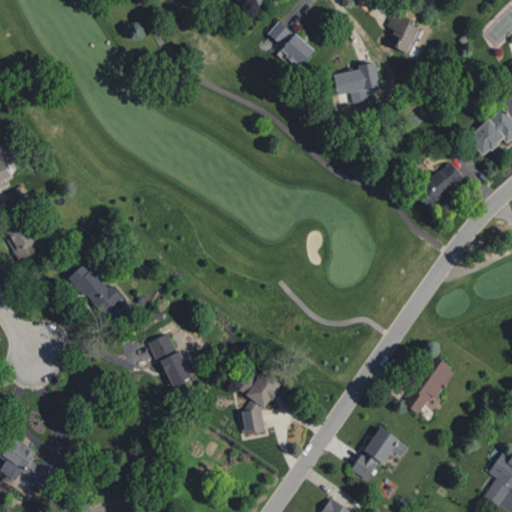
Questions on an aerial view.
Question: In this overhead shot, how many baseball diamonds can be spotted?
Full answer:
Not a single baseball diamond can be seen.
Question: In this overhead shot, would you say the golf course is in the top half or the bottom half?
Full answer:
The golf course sits in the top half of the picture.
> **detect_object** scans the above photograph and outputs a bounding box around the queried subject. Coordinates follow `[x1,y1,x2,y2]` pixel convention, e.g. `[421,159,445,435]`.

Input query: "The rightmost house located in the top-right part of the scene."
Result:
[474,110,512,153]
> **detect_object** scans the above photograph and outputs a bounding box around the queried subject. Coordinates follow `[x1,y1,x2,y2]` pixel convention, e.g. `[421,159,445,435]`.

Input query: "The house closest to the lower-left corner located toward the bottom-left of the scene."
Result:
[0,442,36,481]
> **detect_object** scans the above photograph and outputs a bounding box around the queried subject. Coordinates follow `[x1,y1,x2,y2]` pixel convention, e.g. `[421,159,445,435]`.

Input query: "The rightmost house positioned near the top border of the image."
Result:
[386,18,424,56]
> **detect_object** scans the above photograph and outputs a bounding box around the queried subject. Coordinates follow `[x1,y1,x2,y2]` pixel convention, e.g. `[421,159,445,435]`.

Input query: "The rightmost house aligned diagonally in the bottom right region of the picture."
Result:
[409,361,454,414]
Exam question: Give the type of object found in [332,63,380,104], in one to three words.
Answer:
house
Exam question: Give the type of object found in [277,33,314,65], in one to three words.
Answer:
house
